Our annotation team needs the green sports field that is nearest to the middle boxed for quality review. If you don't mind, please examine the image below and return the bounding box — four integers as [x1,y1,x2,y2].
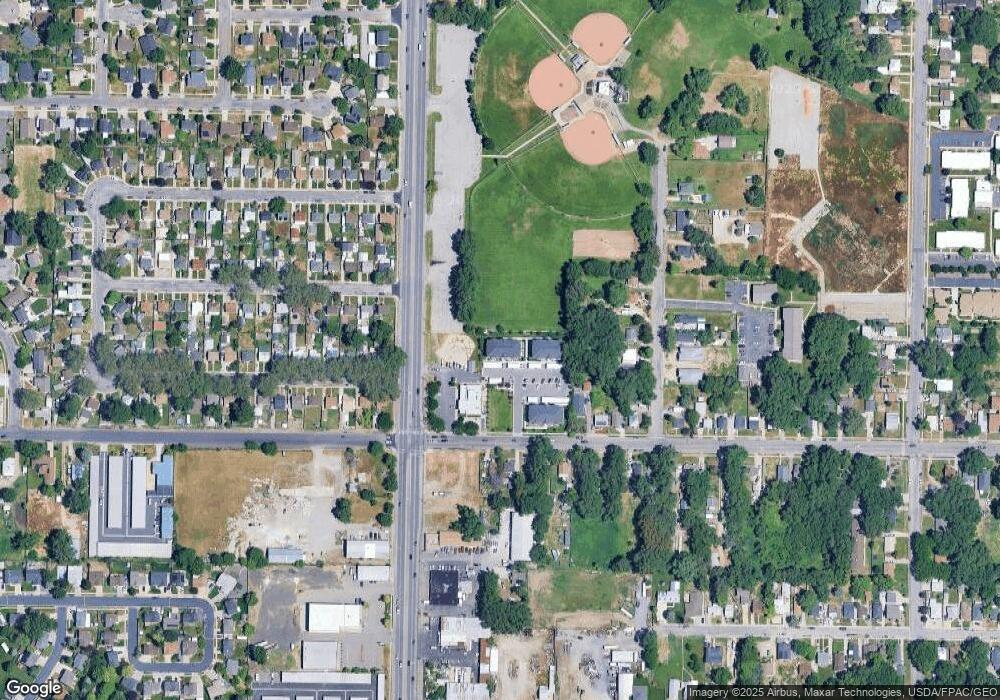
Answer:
[470,163,632,333]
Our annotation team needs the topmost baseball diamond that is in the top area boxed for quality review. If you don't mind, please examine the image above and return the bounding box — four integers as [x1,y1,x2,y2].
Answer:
[512,0,650,69]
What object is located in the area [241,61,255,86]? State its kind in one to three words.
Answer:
house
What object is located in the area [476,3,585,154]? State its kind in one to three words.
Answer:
baseball field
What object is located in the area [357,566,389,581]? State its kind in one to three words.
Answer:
building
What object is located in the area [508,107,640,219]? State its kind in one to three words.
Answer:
baseball field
